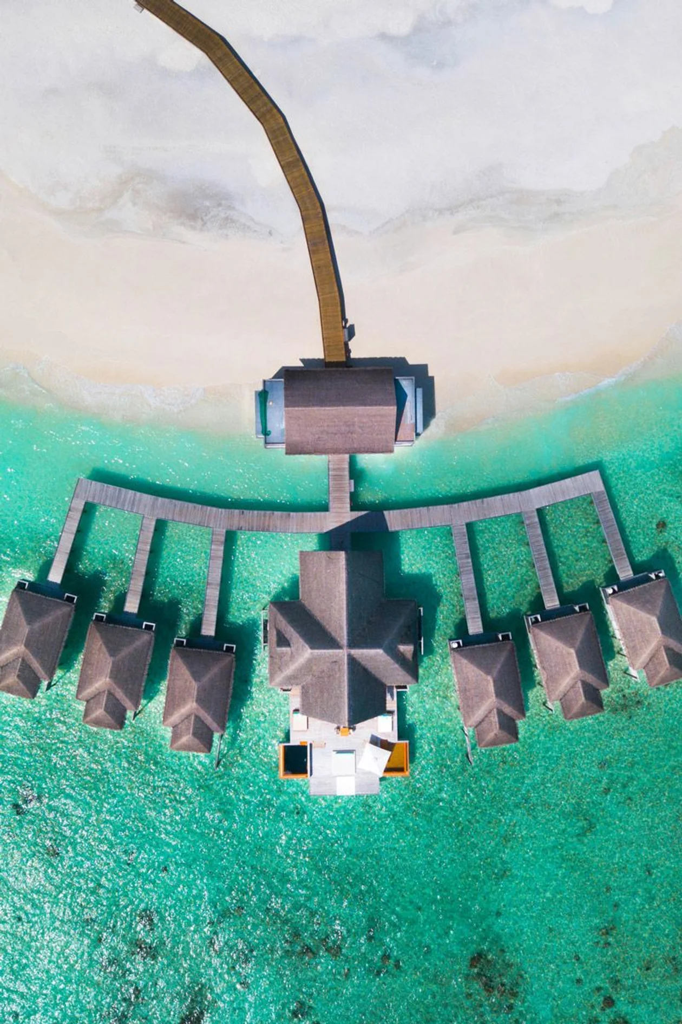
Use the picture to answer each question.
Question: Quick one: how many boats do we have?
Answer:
0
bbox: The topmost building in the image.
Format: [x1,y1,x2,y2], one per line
[255,369,423,455]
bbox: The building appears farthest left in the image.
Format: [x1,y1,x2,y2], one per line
[0,579,80,698]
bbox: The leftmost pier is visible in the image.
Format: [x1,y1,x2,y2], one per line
[46,497,88,589]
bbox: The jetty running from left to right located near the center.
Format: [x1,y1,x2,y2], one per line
[74,470,605,533]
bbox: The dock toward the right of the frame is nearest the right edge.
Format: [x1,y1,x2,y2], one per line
[588,488,633,585]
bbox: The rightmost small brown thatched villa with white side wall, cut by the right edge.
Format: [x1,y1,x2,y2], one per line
[596,568,682,687]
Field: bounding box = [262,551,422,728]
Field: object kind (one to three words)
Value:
house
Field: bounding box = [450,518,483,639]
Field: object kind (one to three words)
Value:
pier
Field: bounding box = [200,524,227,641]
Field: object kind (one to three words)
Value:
pier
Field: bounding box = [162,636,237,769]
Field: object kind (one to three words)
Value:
house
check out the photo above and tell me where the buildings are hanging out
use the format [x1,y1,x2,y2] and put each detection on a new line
[262,551,422,728]
[520,600,610,719]
[596,568,682,687]
[0,579,80,698]
[445,629,526,763]
[162,636,237,769]
[255,369,423,455]
[78,612,157,729]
